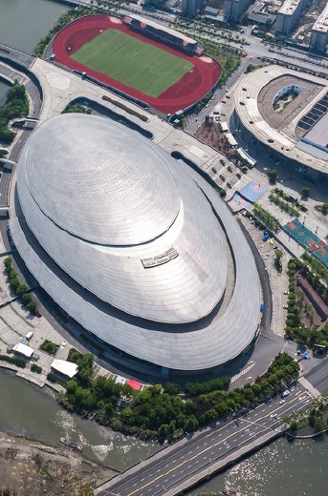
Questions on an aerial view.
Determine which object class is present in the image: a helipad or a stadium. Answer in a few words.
stadium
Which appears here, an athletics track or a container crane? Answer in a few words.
athletics track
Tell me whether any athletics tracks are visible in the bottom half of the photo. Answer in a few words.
No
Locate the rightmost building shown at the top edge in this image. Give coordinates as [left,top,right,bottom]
[308,1,328,50]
